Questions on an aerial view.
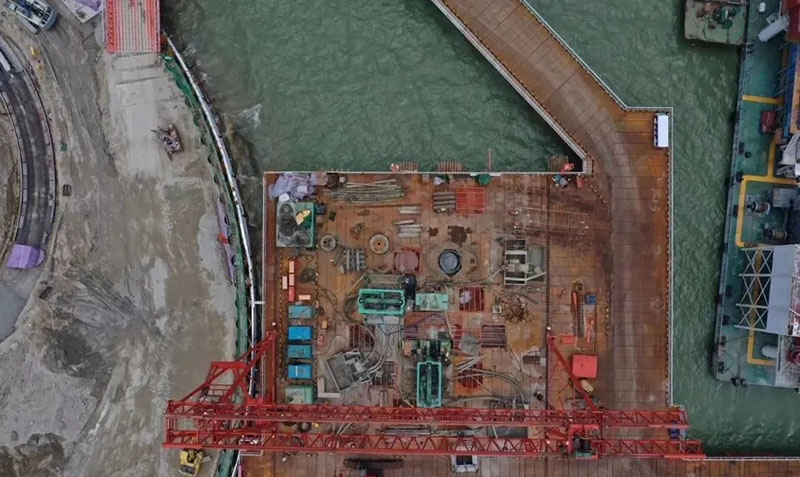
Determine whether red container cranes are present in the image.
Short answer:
Yes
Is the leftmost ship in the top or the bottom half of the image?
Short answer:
top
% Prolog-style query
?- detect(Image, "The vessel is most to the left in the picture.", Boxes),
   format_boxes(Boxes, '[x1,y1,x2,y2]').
[680,0,746,49]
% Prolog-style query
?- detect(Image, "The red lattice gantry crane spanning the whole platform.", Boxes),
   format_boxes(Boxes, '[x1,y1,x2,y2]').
[162,329,708,460]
